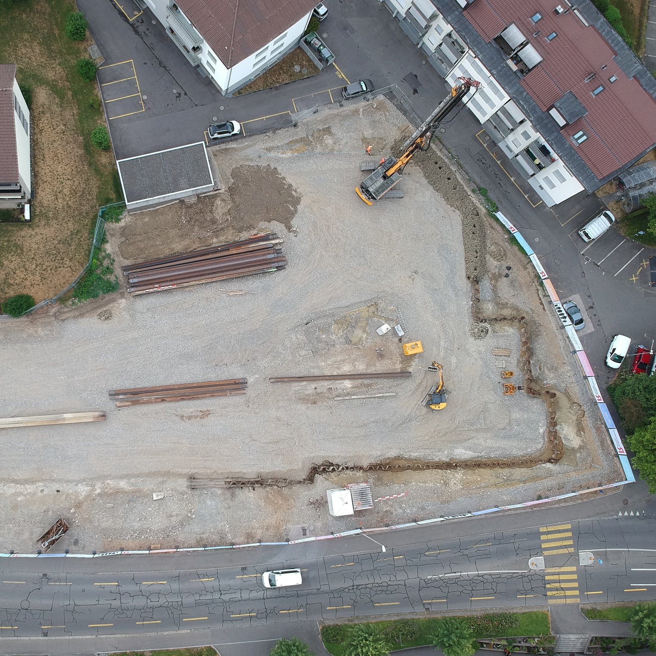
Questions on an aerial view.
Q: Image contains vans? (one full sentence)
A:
Yes, a van can be made out from above.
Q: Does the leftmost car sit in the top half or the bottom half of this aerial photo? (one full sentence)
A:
It is in the top half that the leftmost car appears.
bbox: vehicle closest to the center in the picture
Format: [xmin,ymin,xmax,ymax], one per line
[420,362,451,416]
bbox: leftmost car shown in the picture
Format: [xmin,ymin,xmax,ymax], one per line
[207,118,241,140]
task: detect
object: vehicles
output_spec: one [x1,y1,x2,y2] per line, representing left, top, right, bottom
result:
[316,2,332,26]
[630,346,651,380]
[572,208,616,246]
[207,118,241,140]
[261,568,302,589]
[562,296,591,333]
[602,332,633,371]
[340,78,375,99]
[420,362,451,416]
